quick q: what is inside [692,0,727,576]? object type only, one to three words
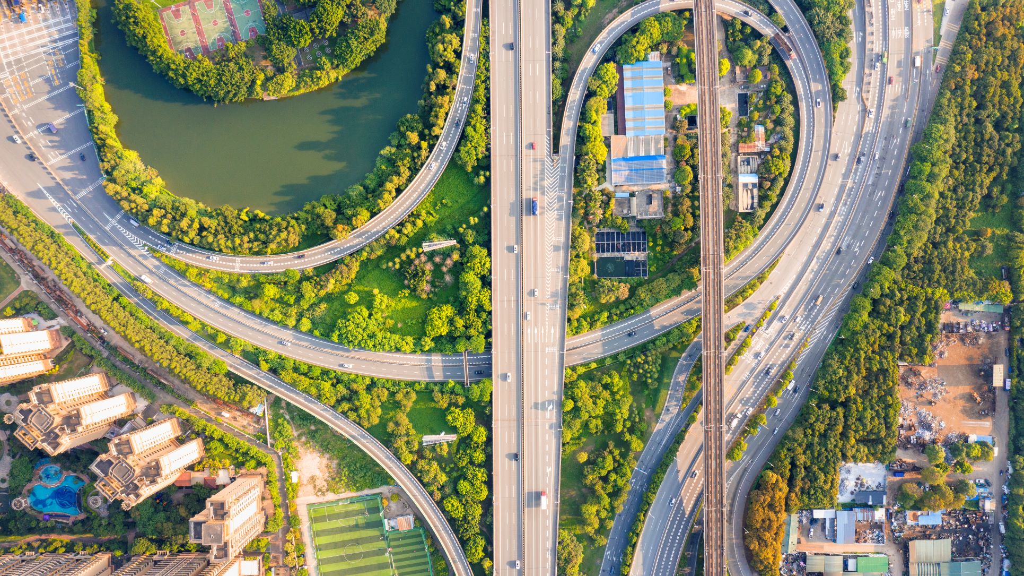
bridge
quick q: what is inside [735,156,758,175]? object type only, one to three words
shed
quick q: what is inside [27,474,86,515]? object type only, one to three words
swimming pool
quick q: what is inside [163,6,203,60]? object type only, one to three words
basketball court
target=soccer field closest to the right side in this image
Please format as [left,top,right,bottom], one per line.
[389,529,431,576]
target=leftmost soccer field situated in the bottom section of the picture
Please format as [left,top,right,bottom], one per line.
[311,497,393,576]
